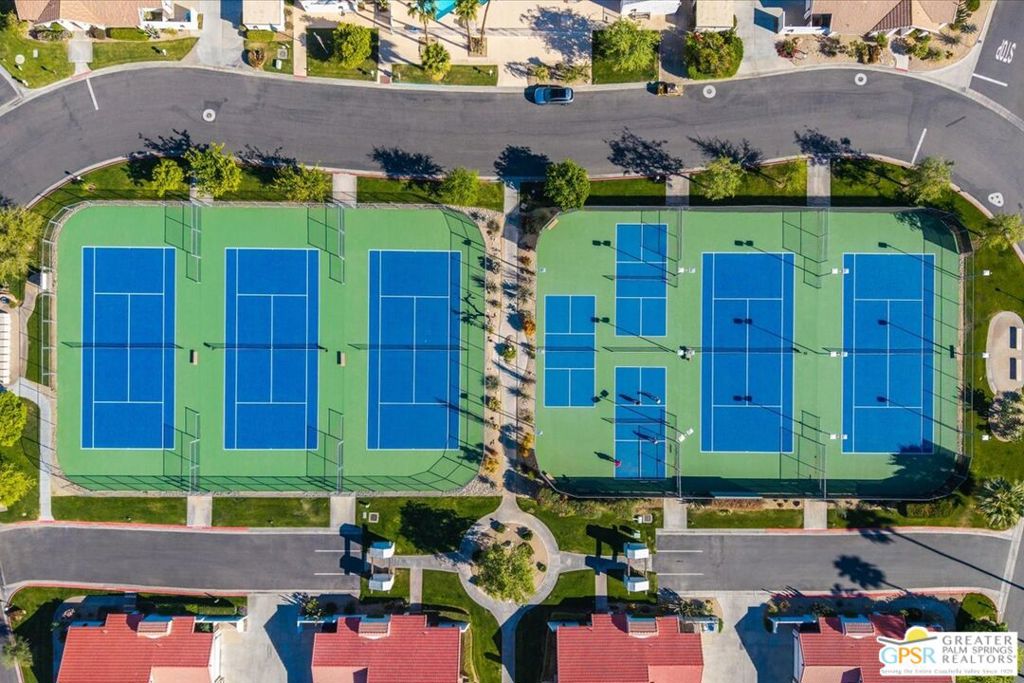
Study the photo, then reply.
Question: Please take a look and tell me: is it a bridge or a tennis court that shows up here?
tennis court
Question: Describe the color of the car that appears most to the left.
blue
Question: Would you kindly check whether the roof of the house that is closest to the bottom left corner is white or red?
red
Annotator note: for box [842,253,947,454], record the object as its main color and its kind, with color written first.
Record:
blue tennis court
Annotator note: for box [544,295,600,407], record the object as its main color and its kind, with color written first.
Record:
blue sports court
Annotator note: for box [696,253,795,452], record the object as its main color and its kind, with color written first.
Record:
blue tennis court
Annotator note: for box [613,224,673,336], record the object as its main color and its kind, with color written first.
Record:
blue sports court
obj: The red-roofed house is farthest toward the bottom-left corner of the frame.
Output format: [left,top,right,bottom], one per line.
[56,611,223,683]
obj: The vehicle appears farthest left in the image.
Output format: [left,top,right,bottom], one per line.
[535,82,575,104]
